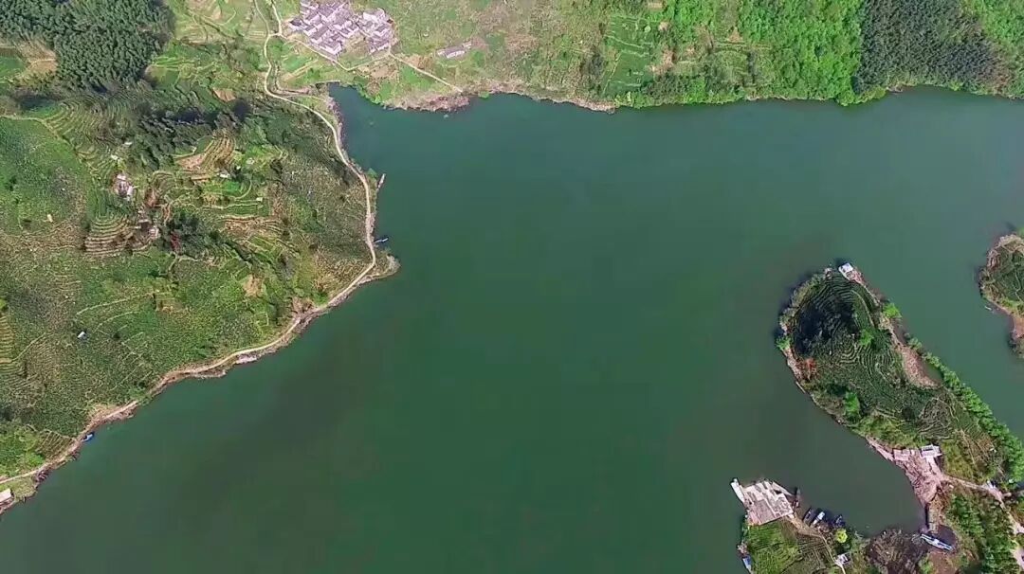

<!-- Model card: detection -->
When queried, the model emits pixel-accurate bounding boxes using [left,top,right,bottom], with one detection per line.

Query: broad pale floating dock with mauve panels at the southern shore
[742,478,794,527]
